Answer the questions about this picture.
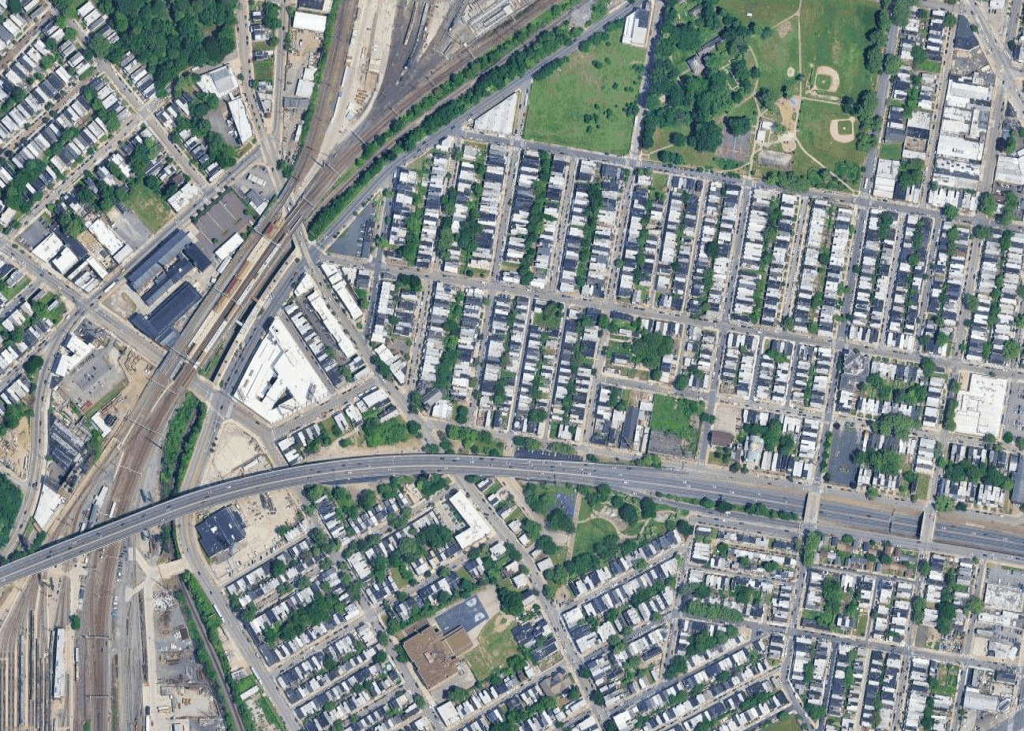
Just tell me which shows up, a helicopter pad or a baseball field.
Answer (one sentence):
The image shows a baseball field.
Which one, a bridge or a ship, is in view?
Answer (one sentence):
Visible in the photo is a bridge.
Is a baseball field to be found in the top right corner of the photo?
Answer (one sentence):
Yes, a baseball field shows up in the top right corner of the photo.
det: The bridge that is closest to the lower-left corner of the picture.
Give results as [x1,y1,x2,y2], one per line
[0,455,520,584]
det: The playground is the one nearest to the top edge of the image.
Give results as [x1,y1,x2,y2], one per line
[776,95,801,133]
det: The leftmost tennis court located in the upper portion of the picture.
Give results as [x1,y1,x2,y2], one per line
[715,116,751,161]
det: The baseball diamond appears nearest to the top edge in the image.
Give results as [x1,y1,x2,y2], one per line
[806,66,839,101]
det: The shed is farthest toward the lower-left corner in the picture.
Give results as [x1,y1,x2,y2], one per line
[53,629,65,698]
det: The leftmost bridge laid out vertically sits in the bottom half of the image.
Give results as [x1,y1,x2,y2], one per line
[803,487,820,528]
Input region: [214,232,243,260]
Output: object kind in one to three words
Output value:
shed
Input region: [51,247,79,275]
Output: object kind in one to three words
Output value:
building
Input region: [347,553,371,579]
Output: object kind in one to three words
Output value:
building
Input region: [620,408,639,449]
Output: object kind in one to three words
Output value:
shed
